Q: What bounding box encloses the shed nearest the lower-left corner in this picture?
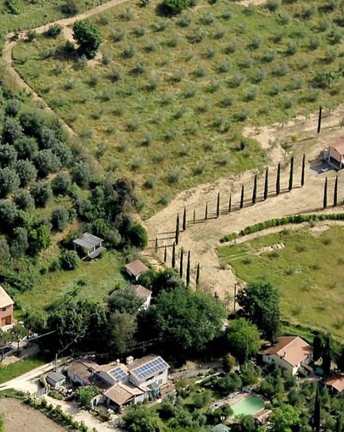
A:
[43,365,67,386]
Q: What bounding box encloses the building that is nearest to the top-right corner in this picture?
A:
[322,135,344,170]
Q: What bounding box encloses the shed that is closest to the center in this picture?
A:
[122,258,149,281]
